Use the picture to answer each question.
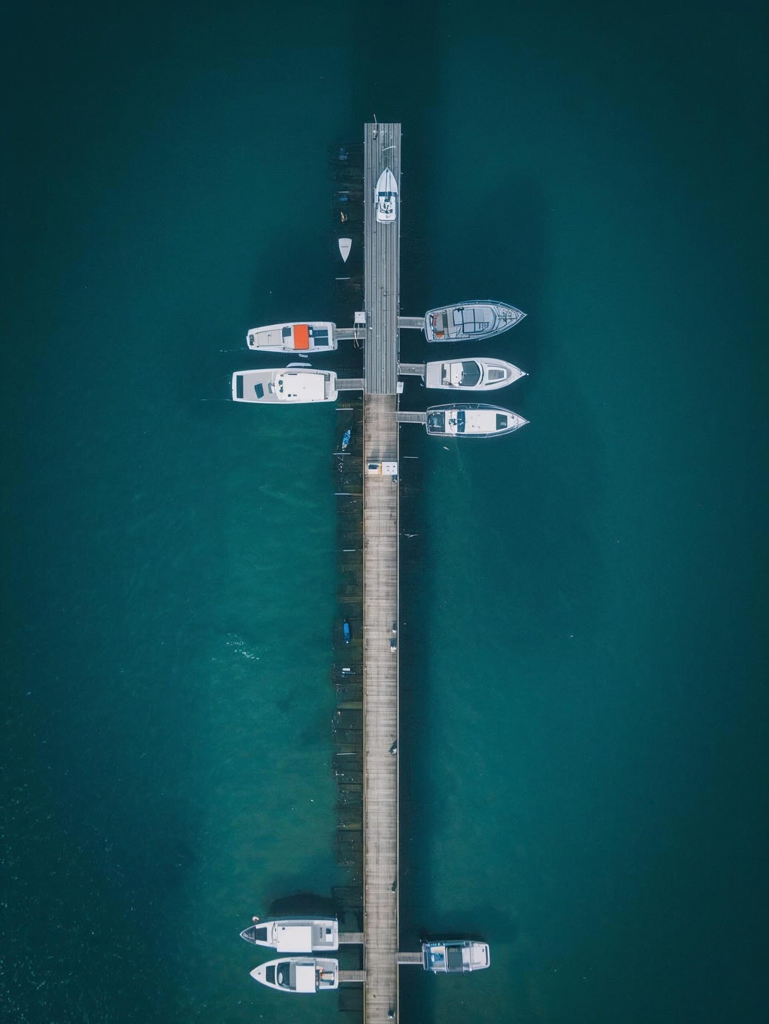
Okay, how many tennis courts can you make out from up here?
none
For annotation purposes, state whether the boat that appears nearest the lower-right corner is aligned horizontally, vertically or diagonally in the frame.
horizontally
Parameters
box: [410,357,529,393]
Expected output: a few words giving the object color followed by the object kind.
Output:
white boat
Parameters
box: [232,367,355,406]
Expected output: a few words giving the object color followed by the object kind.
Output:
white boat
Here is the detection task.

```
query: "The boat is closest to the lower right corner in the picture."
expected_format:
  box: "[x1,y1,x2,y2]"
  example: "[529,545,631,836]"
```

[406,934,490,973]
